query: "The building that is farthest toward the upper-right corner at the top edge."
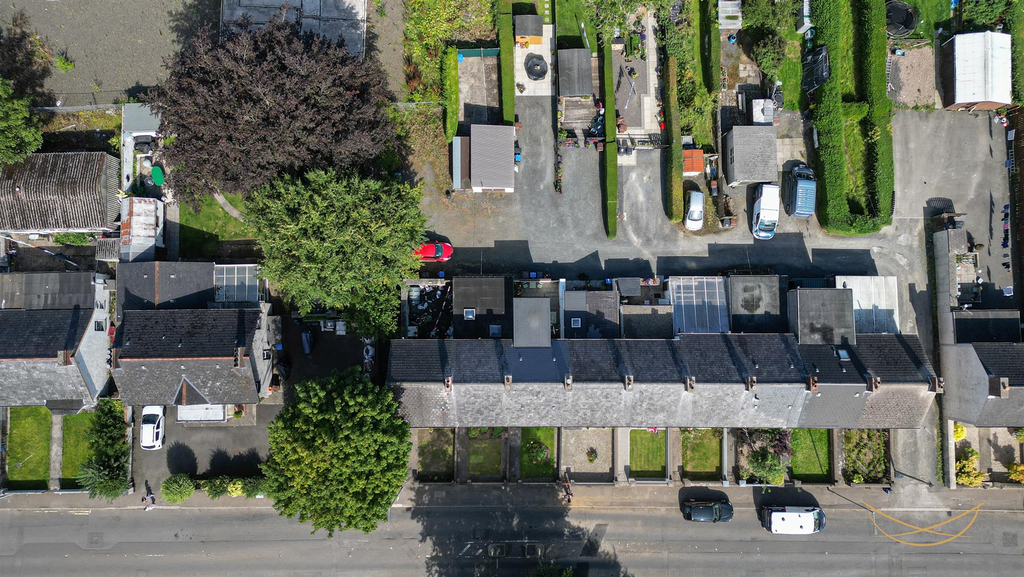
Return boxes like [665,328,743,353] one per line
[940,28,1010,110]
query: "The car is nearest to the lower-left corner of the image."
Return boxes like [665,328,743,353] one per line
[138,406,169,453]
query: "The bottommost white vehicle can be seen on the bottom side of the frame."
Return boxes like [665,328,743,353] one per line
[759,503,820,533]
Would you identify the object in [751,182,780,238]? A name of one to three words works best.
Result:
van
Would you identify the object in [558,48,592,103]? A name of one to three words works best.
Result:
shed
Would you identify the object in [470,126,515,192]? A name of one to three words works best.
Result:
building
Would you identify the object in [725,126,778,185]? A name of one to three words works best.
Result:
shed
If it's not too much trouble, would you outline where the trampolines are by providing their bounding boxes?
[884,0,924,39]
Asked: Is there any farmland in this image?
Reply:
No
